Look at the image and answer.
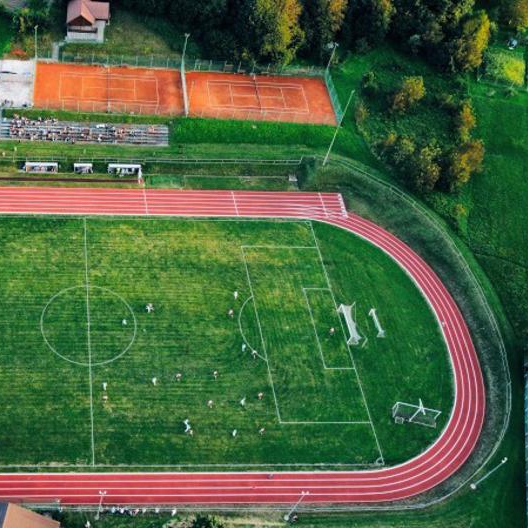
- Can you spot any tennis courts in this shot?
Yes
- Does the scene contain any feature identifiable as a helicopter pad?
No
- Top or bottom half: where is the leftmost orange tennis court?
top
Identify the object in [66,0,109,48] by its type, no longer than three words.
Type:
building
